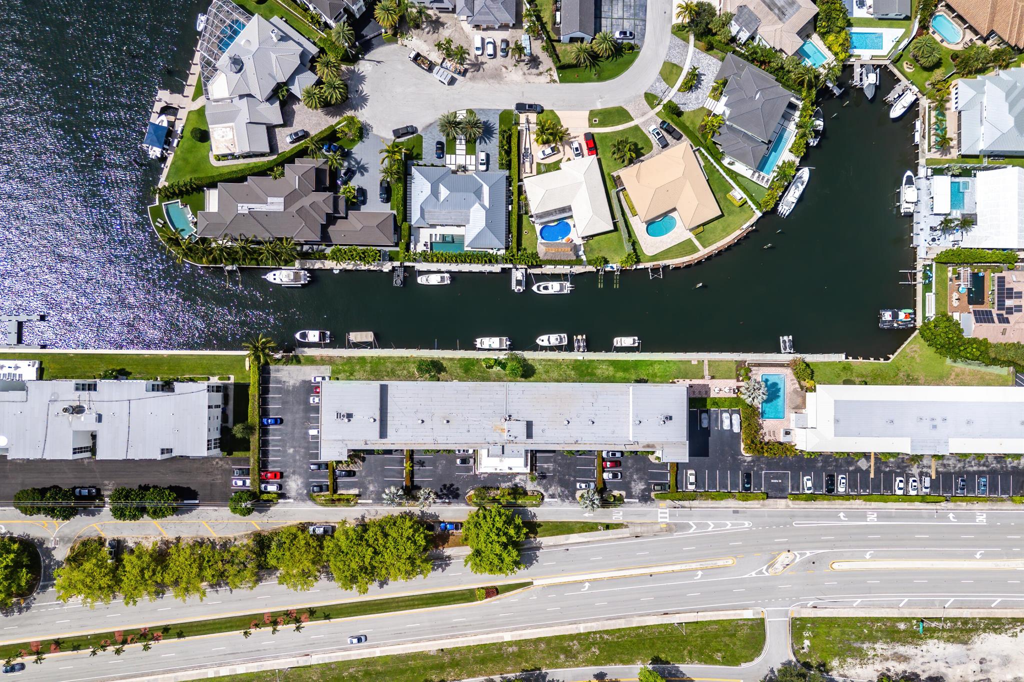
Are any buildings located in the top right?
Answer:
Yes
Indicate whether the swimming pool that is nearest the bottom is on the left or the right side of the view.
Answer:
right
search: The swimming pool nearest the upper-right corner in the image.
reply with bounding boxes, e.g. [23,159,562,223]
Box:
[930,13,964,45]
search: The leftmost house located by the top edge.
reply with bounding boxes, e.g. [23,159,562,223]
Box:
[203,13,320,157]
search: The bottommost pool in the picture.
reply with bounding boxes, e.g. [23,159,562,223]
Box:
[761,373,786,420]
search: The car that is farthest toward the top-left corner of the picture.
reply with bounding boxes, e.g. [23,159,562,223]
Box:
[286,129,306,142]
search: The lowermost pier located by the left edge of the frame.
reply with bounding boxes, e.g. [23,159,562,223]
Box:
[0,314,41,348]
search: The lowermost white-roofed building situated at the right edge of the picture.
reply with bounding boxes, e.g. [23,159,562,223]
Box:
[779,384,1024,455]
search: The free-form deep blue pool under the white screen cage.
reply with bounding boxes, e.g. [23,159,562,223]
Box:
[216,18,248,53]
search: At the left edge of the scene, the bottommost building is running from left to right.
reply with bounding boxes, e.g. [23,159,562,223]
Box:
[0,380,222,460]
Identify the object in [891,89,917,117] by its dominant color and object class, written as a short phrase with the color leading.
white boat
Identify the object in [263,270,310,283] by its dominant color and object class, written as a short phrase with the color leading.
white boat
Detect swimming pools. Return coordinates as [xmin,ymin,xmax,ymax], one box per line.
[645,214,677,238]
[930,13,964,45]
[951,180,966,211]
[970,272,984,304]
[162,199,197,237]
[539,220,572,243]
[850,31,884,50]
[761,373,786,420]
[797,39,829,68]
[216,18,248,53]
[429,233,466,254]
[756,126,795,177]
